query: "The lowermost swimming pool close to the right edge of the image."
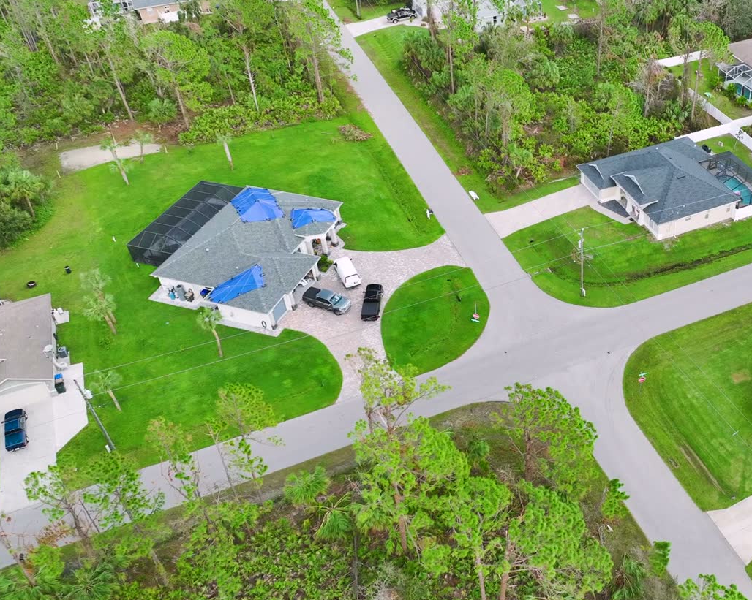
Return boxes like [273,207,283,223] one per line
[705,167,752,221]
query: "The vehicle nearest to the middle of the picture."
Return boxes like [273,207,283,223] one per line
[360,285,384,322]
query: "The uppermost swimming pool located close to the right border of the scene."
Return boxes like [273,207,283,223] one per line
[718,78,752,104]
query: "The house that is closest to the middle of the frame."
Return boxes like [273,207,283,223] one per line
[150,186,344,334]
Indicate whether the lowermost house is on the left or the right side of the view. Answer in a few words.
left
